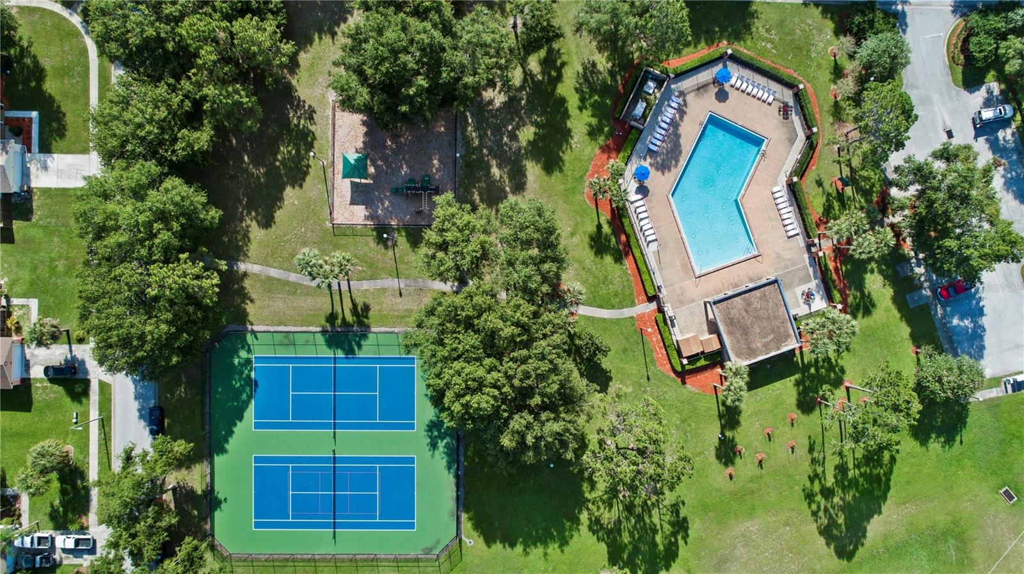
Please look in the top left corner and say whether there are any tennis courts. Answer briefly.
No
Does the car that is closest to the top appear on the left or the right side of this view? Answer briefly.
right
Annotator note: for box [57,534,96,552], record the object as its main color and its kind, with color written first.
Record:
white vehicle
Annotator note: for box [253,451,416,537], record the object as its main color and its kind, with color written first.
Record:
blue tennis court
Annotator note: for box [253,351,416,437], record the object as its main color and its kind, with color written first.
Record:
blue tennis court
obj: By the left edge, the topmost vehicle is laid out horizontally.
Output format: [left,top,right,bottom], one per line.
[45,364,79,380]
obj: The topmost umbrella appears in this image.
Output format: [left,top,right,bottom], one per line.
[714,67,731,84]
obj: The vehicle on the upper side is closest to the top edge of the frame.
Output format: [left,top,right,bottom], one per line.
[972,106,1011,127]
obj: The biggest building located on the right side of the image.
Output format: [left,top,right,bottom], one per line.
[703,275,800,364]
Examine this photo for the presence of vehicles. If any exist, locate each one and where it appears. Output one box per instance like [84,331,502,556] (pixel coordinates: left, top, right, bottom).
[935,277,977,301]
[17,553,56,571]
[57,534,96,552]
[148,405,166,437]
[45,364,79,380]
[16,533,56,551]
[972,106,1011,127]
